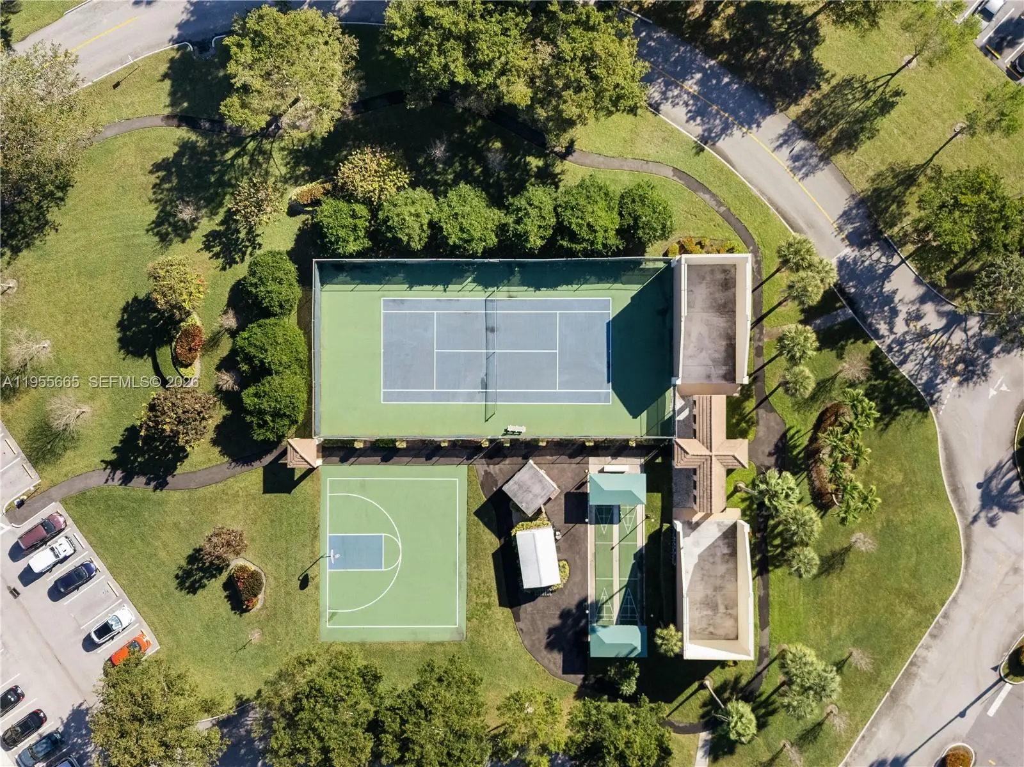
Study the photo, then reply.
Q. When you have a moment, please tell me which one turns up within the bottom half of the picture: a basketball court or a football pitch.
basketball court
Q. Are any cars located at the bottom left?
Yes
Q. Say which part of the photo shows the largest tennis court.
center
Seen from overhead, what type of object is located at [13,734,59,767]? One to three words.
car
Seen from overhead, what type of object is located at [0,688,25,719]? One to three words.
car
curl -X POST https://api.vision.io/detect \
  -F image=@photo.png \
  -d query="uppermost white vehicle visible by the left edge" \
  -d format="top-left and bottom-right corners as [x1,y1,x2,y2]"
[22,537,74,577]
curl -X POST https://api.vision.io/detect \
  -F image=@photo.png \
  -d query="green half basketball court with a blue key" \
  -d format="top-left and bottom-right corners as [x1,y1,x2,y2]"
[321,466,467,641]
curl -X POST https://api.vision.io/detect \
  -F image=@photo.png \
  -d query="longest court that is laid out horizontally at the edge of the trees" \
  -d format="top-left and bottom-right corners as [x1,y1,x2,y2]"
[321,263,672,436]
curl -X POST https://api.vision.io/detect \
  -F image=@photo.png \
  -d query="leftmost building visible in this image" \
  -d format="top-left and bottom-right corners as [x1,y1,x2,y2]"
[289,438,325,468]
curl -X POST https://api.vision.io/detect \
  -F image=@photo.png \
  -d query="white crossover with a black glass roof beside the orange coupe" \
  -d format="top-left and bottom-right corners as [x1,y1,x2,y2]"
[87,608,133,647]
